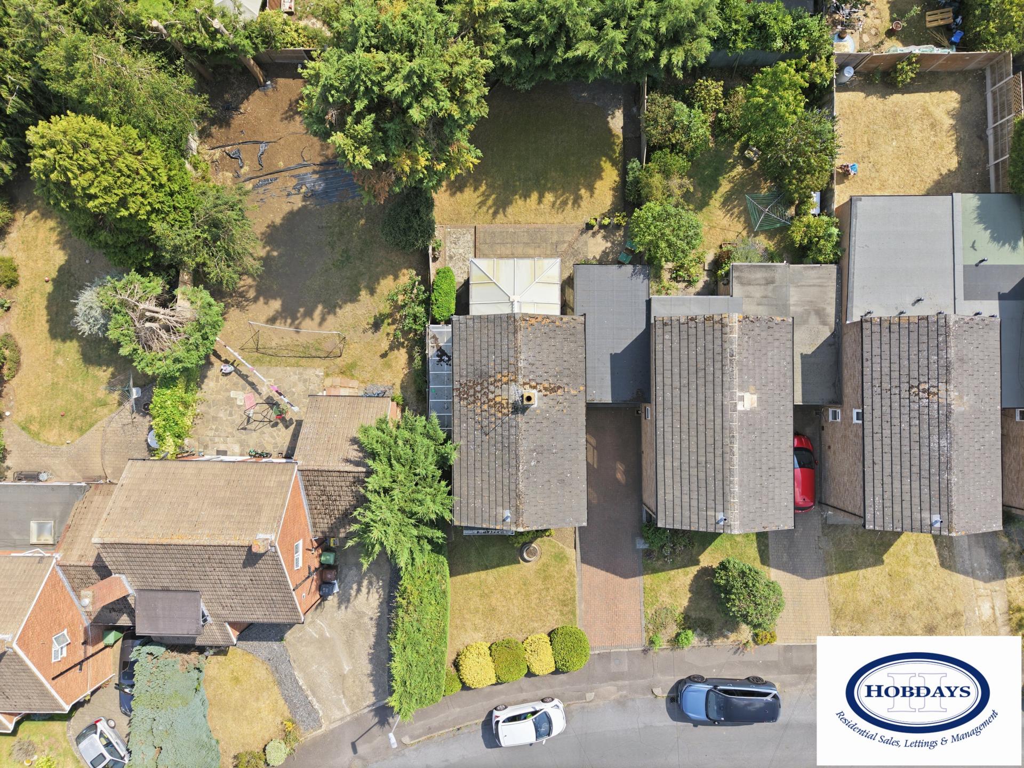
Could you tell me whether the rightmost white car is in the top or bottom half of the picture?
bottom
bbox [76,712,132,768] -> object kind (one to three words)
car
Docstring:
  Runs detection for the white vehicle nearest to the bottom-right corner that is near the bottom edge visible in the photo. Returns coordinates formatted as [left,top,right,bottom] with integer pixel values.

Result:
[491,695,567,744]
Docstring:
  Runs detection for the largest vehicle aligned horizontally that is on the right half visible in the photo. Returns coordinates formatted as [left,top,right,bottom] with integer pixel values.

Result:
[672,673,776,724]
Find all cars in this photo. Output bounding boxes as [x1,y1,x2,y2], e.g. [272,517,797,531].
[76,712,132,768]
[491,695,567,744]
[672,673,776,724]
[108,627,150,720]
[795,432,820,514]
